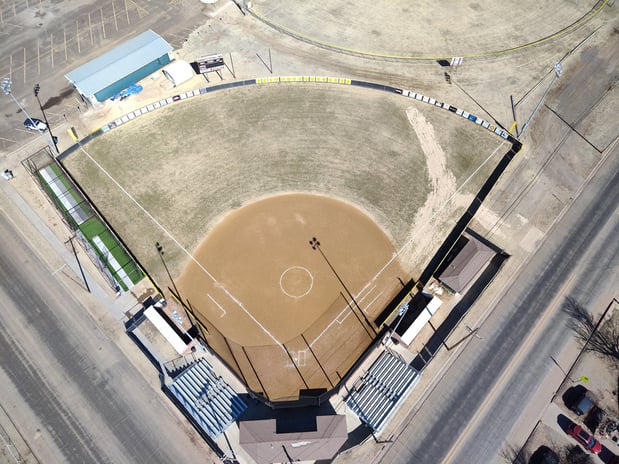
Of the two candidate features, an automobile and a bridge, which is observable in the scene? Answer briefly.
automobile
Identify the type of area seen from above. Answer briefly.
sports ground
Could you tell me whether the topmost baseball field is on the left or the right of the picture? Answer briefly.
right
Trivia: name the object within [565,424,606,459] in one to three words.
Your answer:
car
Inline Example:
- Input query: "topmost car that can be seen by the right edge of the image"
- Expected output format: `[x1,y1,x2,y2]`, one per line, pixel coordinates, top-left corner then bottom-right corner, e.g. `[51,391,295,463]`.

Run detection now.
[568,385,604,417]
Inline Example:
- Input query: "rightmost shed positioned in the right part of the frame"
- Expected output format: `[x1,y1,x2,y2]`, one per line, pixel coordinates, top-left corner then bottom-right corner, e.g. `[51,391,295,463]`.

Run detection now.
[436,240,496,297]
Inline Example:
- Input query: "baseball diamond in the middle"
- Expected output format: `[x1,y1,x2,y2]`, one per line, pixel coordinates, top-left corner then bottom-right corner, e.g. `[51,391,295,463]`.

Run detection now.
[59,81,519,406]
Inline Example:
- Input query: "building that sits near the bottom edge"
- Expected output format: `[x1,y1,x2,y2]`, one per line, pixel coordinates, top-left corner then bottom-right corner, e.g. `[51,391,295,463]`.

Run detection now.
[239,416,348,464]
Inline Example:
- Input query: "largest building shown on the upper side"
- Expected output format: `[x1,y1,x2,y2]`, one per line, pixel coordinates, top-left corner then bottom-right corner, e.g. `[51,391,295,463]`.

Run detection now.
[64,30,177,111]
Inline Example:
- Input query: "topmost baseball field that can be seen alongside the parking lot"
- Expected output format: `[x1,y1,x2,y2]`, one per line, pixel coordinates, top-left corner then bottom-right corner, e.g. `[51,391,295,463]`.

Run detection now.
[243,0,610,60]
